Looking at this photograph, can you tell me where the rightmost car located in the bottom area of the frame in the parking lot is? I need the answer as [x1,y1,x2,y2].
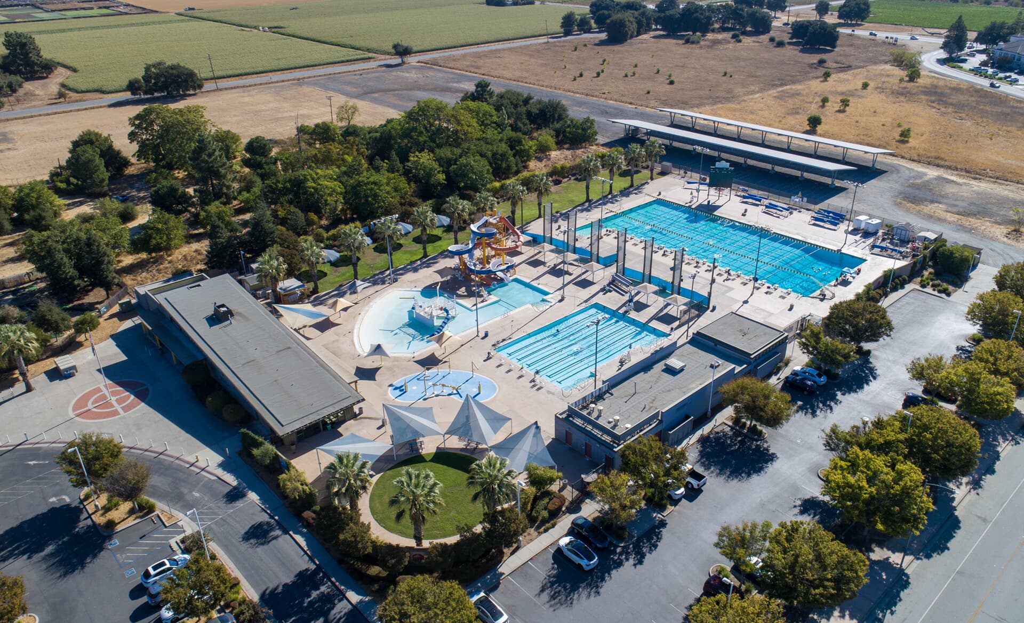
[904,388,941,409]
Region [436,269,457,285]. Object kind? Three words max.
umbrella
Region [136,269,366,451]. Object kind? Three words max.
building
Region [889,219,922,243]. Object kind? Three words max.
shed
